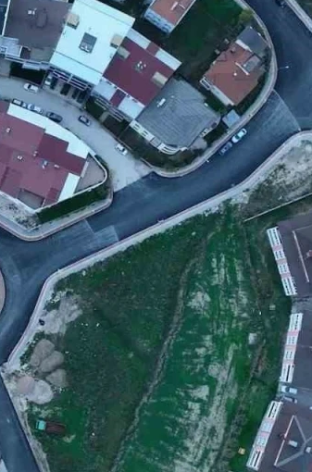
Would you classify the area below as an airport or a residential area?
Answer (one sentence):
It's a residential area.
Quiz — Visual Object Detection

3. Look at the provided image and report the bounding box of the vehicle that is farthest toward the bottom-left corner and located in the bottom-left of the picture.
[37,420,65,433]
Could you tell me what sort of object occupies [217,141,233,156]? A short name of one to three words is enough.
car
